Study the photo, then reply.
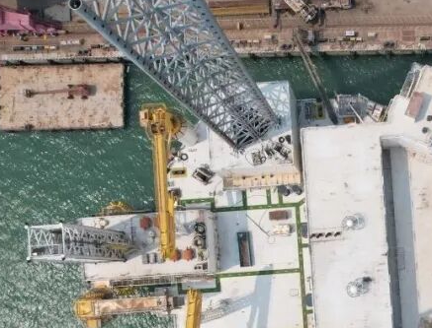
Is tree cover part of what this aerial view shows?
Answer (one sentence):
No, there is no tree cover in the image.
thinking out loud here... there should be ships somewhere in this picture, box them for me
[0,61,128,132]
[23,0,432,328]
